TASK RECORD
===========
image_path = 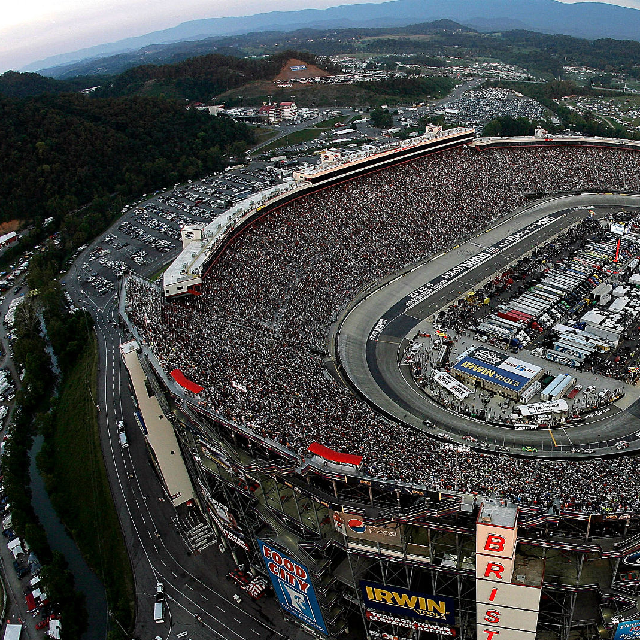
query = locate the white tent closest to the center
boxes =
[433,373,475,406]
